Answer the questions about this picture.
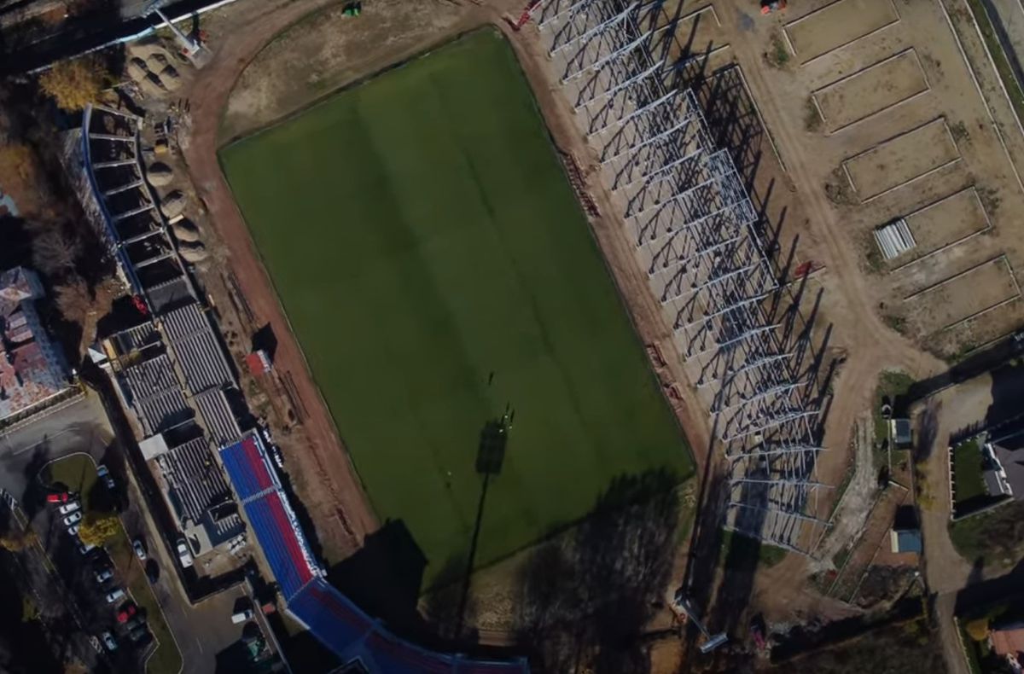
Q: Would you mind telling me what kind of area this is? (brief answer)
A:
sports ground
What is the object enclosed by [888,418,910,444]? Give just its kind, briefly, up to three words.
shed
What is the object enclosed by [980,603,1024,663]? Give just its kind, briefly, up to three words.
house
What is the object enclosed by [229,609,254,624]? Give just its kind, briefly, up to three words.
vehicle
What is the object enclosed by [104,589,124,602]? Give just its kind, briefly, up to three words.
vehicle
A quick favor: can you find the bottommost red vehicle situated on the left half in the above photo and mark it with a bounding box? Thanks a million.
[115,608,134,622]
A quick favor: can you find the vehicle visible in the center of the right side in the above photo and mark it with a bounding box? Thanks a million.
[795,261,824,280]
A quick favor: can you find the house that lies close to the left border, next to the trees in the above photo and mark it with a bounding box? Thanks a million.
[0,265,86,413]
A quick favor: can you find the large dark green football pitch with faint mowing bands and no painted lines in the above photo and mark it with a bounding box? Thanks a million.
[217,25,695,593]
